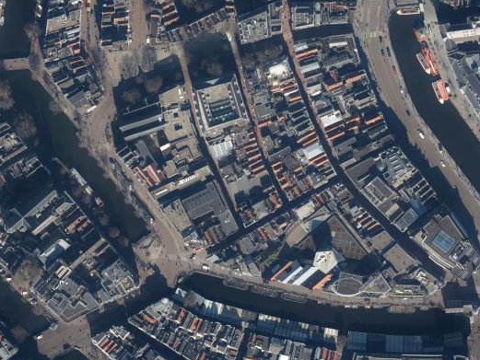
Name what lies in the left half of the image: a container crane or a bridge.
bridge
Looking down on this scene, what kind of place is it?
residential area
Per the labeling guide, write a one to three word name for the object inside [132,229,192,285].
bridge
